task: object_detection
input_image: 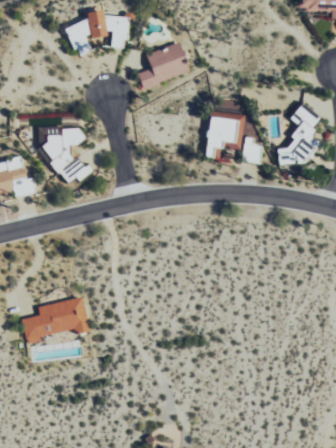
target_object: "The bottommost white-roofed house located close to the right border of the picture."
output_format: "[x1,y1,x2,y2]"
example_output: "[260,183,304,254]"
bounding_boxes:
[278,106,321,166]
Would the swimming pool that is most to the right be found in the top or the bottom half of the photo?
top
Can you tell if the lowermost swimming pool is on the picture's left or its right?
left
